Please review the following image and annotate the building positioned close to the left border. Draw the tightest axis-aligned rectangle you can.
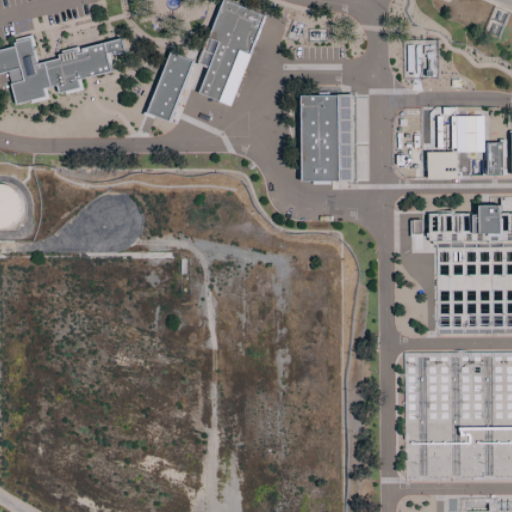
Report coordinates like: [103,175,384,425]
[0,34,124,104]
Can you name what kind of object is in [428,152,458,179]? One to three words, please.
building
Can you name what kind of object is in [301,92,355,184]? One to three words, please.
building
